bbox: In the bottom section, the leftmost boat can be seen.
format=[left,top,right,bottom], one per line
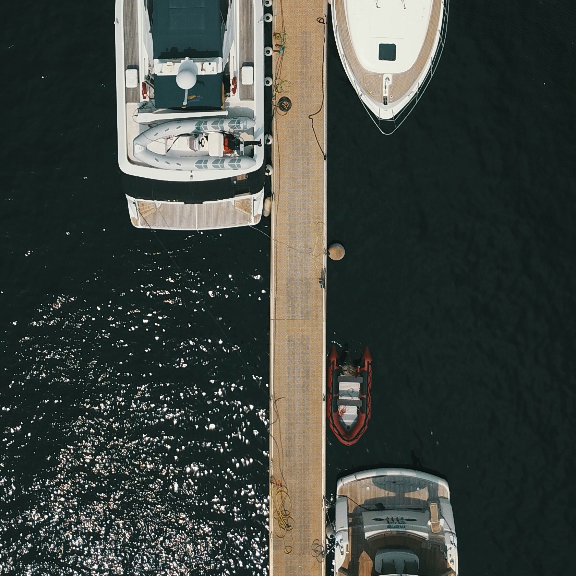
[327,345,374,446]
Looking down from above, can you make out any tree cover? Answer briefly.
No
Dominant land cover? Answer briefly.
water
